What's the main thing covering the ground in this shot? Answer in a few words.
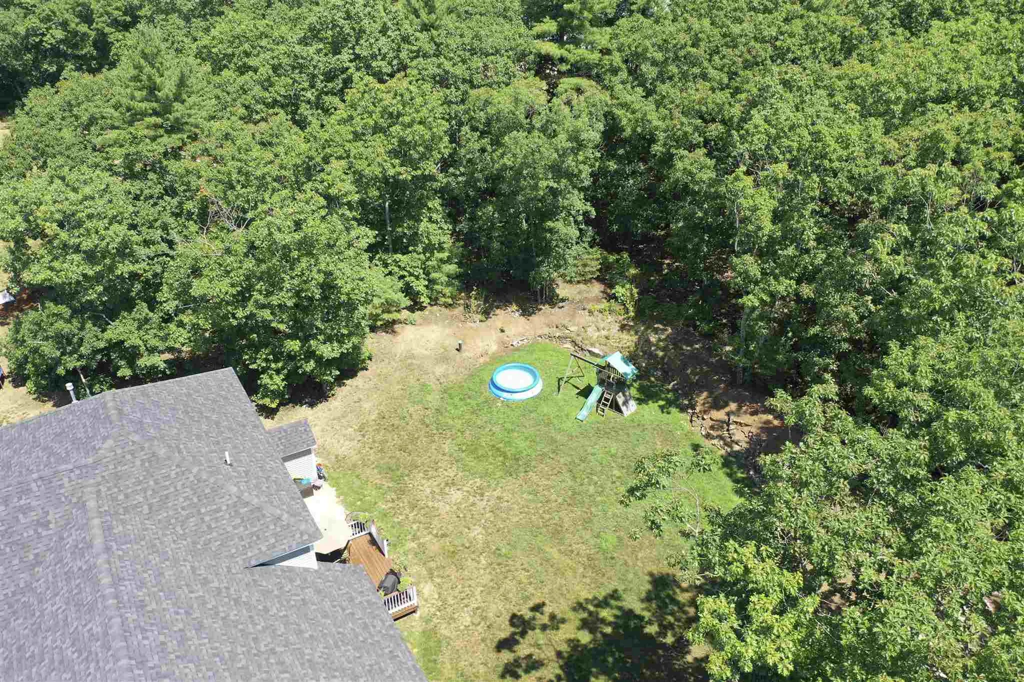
trees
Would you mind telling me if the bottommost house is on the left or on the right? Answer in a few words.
left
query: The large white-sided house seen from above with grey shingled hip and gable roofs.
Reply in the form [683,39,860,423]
[0,367,429,682]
